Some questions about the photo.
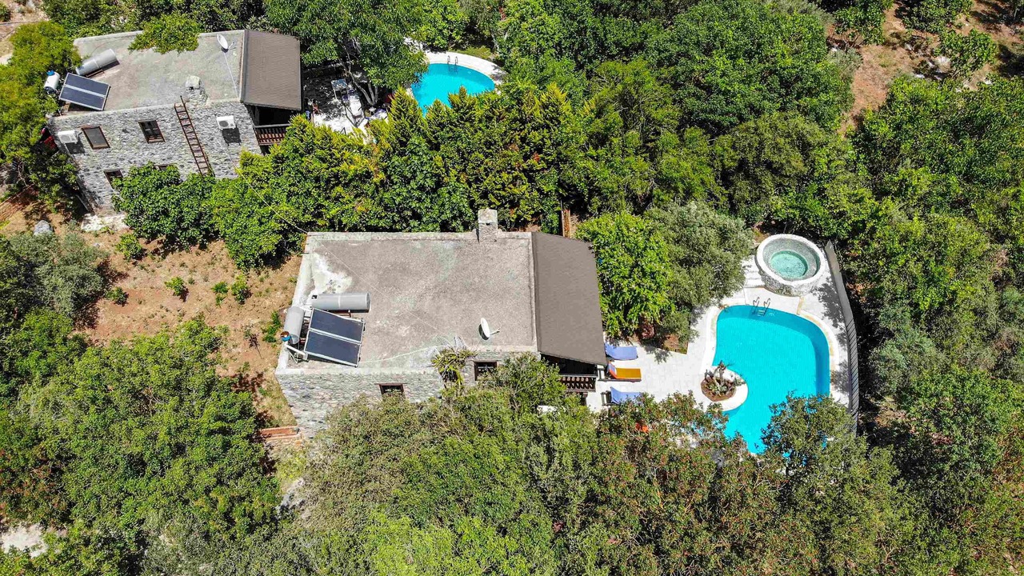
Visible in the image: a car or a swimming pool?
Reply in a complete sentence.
Visible in the photo is a swimming pool.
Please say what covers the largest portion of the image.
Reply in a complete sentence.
For the most part, this view shows trees.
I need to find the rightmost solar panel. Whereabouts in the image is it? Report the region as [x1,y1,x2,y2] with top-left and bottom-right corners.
[303,308,369,366]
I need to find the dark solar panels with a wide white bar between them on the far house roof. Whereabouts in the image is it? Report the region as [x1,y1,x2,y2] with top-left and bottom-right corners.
[59,73,119,111]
